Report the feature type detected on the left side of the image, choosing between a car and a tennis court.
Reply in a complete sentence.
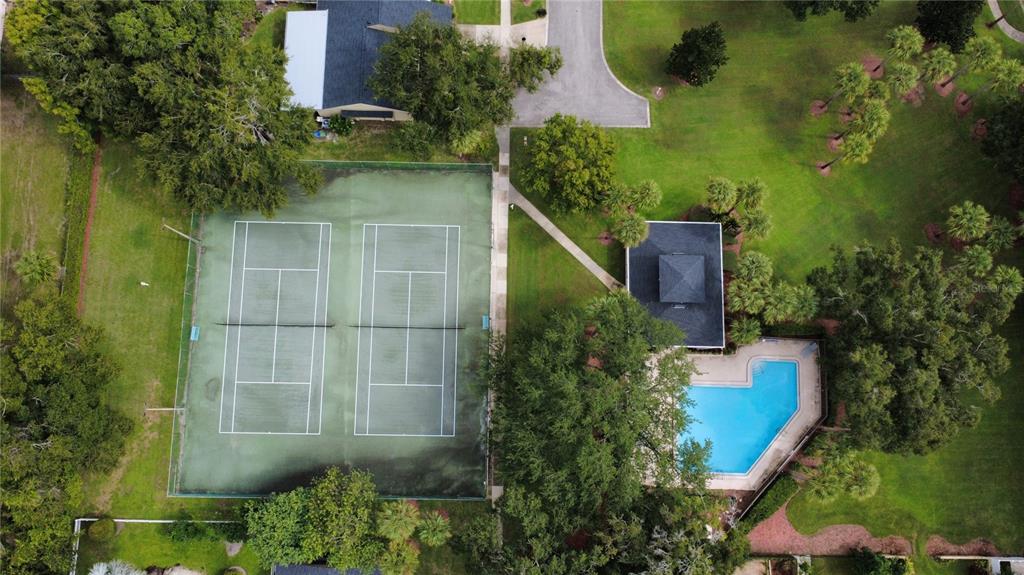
What appears on the left side of the image is a tennis court.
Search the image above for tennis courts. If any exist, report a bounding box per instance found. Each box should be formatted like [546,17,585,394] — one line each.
[215,222,334,435]
[349,224,466,437]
